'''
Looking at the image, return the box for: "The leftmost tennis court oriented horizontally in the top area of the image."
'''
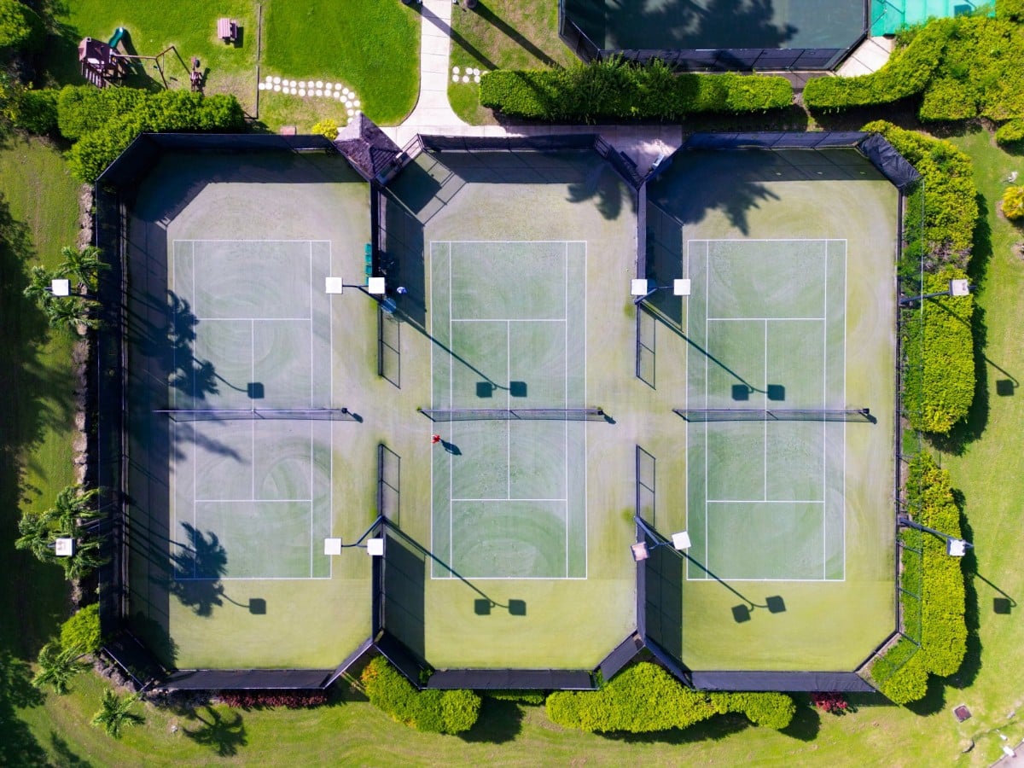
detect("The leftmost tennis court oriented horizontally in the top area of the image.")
[561,0,867,70]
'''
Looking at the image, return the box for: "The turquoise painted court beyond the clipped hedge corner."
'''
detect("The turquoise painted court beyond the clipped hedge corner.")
[869,0,978,36]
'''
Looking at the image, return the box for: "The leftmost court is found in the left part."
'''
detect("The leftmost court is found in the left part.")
[121,149,381,670]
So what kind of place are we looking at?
sports ground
